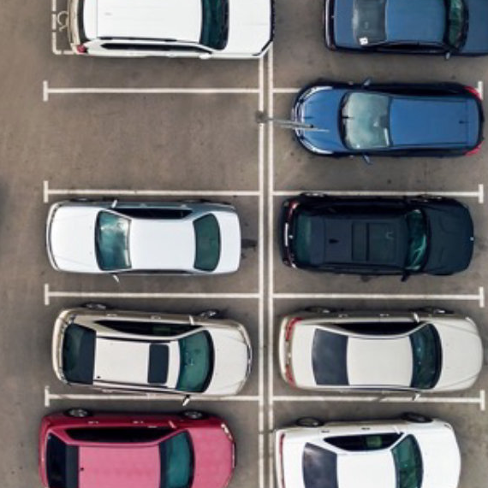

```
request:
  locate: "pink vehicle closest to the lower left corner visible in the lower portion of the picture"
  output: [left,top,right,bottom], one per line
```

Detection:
[42,407,236,488]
